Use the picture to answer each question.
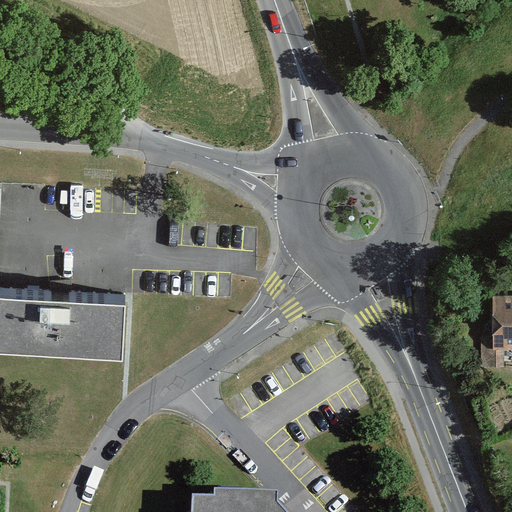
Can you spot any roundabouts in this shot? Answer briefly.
Yes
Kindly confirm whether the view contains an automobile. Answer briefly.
Yes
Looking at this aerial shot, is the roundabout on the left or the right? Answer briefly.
right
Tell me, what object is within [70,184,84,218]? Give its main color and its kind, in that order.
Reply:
white vehicle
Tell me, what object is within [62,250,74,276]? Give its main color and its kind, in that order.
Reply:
white vehicle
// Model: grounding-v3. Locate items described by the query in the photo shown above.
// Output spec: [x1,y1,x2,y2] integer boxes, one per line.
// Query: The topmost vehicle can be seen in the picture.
[268,12,282,33]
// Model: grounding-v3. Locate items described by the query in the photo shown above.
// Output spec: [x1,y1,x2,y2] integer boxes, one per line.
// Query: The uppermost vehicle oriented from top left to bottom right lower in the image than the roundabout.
[295,352,313,374]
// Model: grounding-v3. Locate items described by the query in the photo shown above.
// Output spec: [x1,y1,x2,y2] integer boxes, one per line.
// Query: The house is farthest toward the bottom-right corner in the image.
[481,294,512,367]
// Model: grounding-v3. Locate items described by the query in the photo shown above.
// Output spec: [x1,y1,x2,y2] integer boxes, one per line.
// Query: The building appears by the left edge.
[0,287,126,362]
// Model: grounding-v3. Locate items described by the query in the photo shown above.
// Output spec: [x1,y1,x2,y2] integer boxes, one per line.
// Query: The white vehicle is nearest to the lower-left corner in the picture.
[83,466,104,501]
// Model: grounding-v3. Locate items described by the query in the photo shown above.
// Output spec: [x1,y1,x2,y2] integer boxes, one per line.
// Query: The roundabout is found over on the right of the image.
[275,132,428,304]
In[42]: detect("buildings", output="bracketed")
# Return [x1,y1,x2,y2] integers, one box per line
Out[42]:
[0,287,126,362]
[190,486,294,512]
[481,294,512,367]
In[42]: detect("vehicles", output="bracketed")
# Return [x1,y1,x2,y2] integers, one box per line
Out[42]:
[231,446,257,472]
[170,275,181,294]
[268,12,282,33]
[196,226,206,246]
[295,352,313,374]
[83,466,104,501]
[294,118,304,140]
[62,250,74,276]
[58,187,68,210]
[70,184,84,218]
[120,418,138,440]
[311,476,332,494]
[145,270,156,292]
[168,221,180,247]
[206,275,218,296]
[104,441,122,460]
[276,157,298,168]
[289,422,306,442]
[182,270,194,292]
[158,272,168,293]
[321,405,338,426]
[84,189,95,213]
[220,224,230,247]
[232,224,243,248]
[252,380,271,402]
[46,186,56,204]
[264,375,282,396]
[311,411,329,433]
